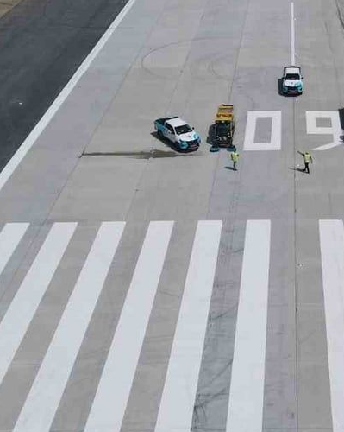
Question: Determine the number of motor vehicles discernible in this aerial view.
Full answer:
The picture shows 3 motor vehicles.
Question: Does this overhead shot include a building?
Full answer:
No, the photo shows no building.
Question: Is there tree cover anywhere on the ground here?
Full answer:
No, tree cover can't be seen anywhere here.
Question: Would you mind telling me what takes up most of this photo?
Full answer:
What you mostly see from above here is paved ground.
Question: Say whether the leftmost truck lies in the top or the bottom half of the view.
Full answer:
Seen from above, the leftmost truck lies in the top half of the view.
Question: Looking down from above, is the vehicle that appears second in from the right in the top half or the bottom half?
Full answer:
The vehicle that appears second in from the right is in the top half of the image.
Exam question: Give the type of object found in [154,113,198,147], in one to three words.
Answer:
truck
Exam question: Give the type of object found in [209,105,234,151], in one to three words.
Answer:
vehicle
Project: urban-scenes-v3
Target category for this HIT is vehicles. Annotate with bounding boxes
[154,113,198,147]
[209,105,234,151]
[280,66,303,92]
